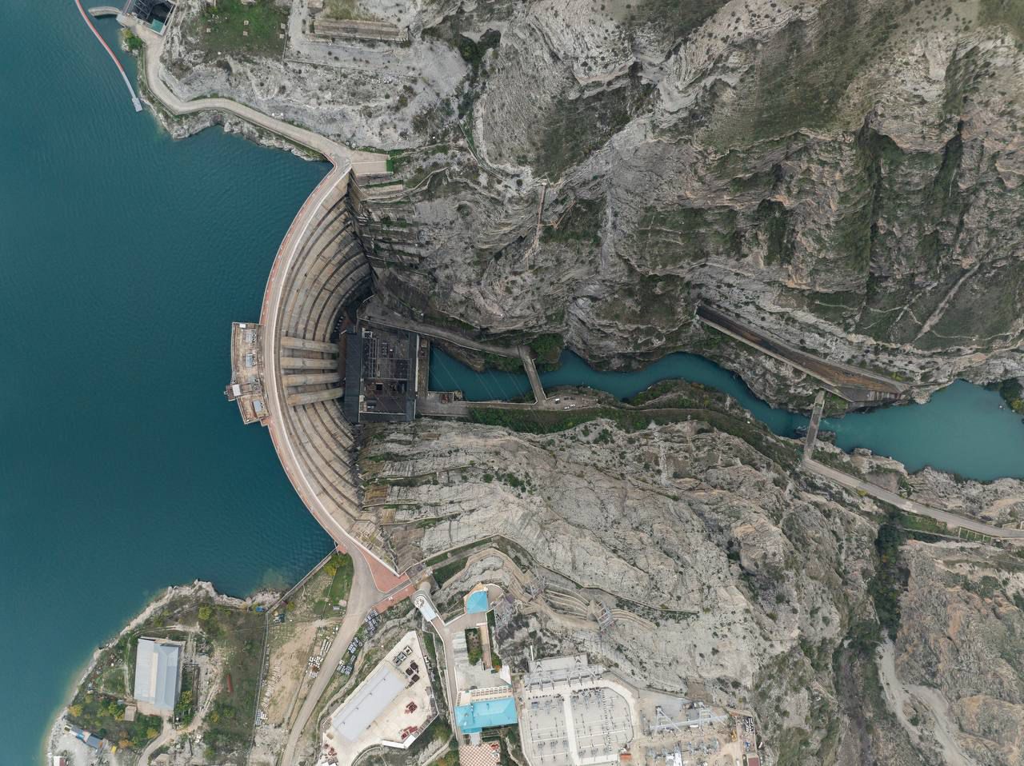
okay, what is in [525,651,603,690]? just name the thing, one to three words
building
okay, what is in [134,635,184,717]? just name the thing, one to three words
building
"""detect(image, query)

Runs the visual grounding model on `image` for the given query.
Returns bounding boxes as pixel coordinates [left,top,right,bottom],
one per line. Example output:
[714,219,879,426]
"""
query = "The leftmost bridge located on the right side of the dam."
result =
[518,346,547,407]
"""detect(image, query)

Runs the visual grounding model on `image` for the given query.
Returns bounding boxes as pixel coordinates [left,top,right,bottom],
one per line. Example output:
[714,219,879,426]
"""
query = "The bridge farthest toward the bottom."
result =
[798,394,824,462]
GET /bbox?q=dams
[231,159,397,573]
